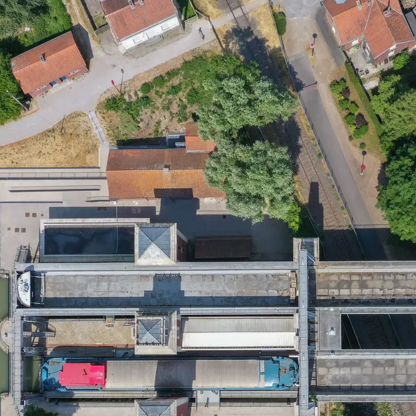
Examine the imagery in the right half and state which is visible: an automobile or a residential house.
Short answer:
residential house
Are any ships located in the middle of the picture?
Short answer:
No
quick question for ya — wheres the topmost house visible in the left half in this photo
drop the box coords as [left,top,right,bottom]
[100,0,181,51]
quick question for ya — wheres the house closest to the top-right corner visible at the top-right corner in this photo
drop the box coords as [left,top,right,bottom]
[322,0,416,64]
